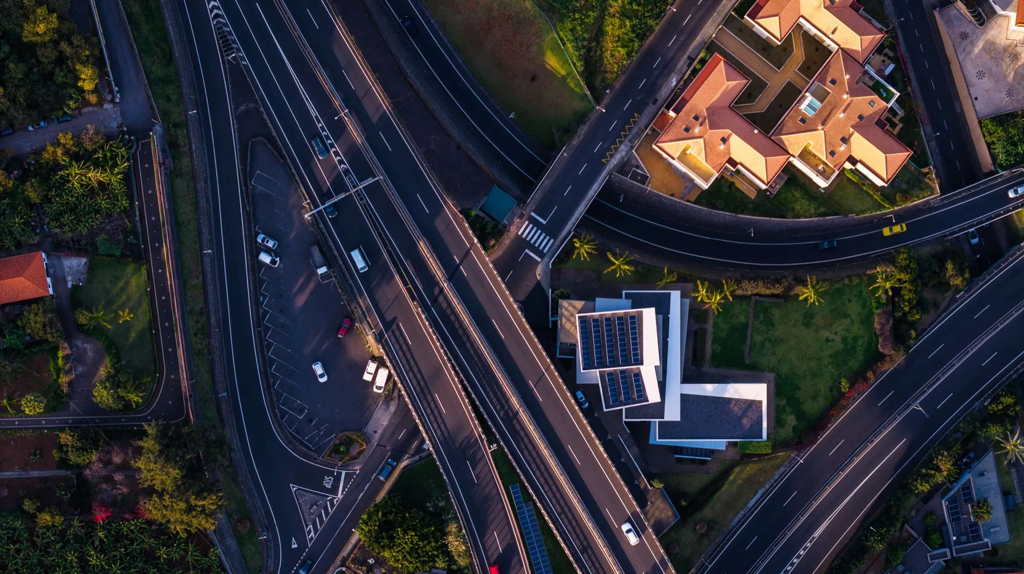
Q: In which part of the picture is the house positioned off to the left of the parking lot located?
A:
left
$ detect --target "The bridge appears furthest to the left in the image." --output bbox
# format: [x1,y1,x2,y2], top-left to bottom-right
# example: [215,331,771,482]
[209,0,529,574]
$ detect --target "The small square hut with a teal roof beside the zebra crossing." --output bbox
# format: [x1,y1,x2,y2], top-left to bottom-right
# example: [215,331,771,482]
[483,185,517,222]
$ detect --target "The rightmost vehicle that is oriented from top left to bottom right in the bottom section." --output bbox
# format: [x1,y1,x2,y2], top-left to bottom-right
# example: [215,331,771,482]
[620,521,642,549]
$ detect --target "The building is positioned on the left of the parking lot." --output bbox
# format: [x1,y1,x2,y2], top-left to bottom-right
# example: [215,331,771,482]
[0,250,64,306]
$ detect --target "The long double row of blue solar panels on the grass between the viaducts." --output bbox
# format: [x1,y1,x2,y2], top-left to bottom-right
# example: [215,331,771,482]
[509,485,551,574]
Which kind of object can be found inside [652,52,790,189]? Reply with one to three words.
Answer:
house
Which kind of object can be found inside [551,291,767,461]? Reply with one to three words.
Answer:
building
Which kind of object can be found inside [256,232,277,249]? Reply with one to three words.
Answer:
car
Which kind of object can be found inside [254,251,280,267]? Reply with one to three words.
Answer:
vehicle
